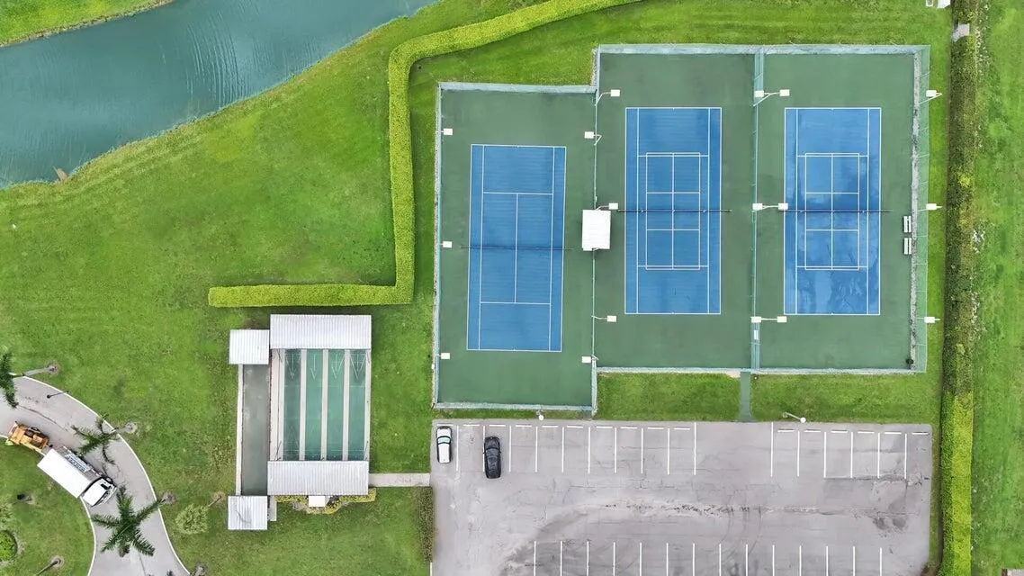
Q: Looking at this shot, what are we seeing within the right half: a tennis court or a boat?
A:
tennis court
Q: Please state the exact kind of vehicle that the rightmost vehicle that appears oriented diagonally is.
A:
truck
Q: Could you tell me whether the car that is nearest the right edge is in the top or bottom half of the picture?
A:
bottom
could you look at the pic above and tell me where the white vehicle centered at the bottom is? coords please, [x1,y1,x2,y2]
[435,425,453,464]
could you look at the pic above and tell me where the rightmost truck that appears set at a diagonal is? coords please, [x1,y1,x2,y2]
[38,443,120,508]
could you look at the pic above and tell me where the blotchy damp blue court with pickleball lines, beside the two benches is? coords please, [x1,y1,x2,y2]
[752,54,914,369]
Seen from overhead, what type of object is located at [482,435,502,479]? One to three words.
car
